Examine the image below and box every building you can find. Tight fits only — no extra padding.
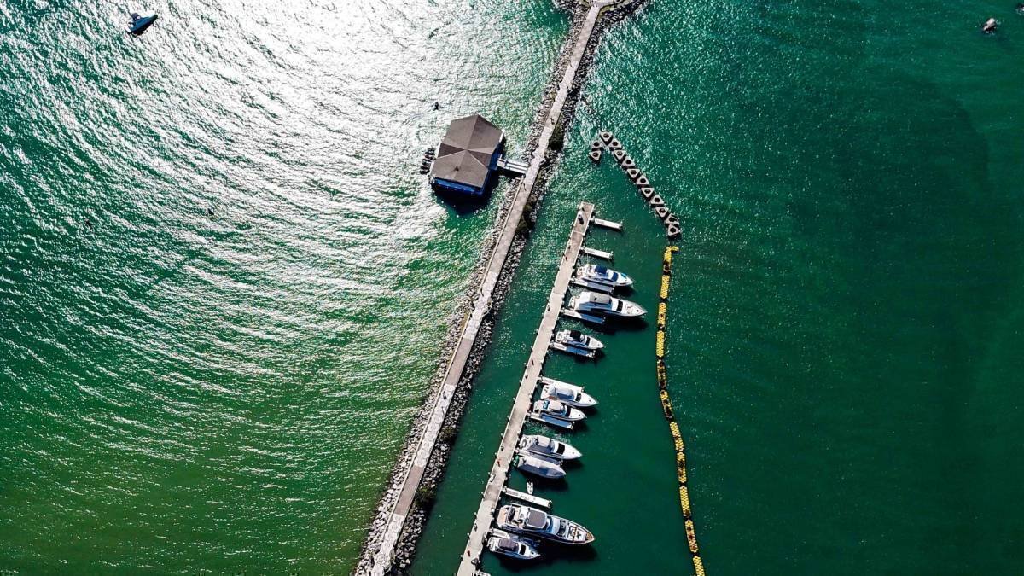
[431,115,506,197]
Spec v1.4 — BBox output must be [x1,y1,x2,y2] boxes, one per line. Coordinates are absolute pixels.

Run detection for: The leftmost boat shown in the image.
[125,14,158,36]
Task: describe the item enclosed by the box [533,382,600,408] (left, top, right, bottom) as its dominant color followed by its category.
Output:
white boat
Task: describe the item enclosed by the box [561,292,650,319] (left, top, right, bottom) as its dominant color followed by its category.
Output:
white boat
